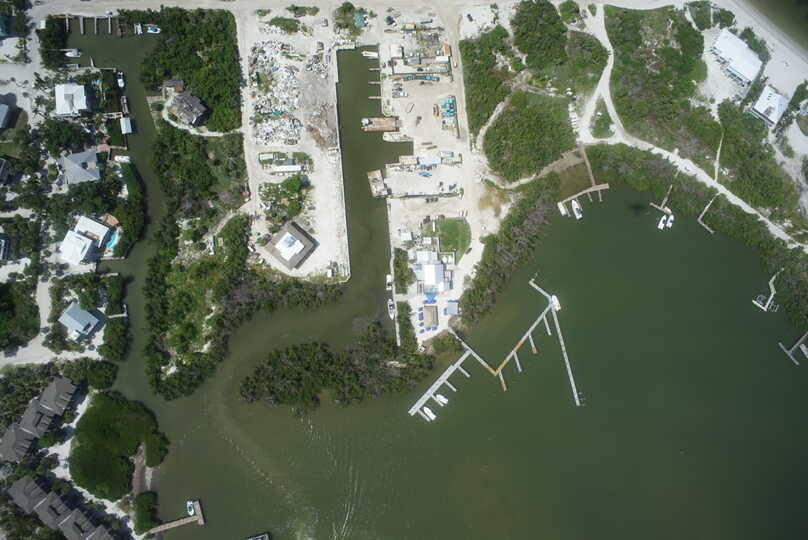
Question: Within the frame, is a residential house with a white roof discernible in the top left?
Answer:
Yes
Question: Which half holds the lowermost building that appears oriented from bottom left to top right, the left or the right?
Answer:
left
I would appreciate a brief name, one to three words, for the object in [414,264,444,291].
building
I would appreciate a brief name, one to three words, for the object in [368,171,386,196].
ship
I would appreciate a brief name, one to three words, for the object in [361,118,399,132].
ship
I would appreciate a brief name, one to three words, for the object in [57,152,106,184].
house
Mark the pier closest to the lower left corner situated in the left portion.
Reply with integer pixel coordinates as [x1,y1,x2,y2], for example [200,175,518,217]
[149,499,205,534]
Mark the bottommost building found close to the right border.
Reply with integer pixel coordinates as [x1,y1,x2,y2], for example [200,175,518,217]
[746,85,788,129]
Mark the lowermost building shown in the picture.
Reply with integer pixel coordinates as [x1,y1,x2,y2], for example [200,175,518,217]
[9,471,129,540]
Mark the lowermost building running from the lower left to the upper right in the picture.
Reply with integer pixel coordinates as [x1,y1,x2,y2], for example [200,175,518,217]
[0,376,84,462]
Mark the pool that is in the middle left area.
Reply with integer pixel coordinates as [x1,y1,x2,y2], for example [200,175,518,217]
[105,228,119,250]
